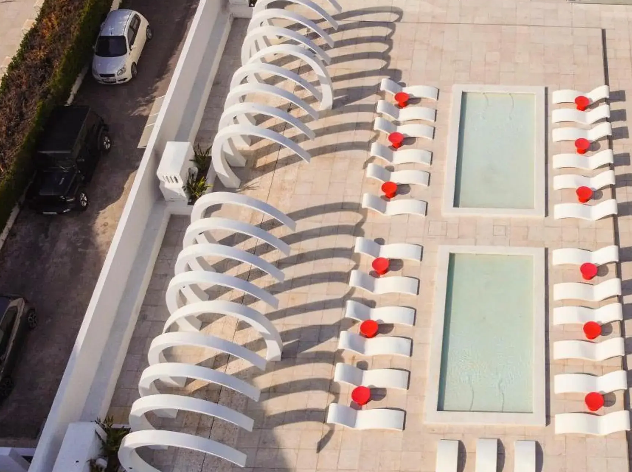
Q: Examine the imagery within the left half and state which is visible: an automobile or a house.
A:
automobile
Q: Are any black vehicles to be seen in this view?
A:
Yes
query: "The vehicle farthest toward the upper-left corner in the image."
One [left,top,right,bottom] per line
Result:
[90,10,151,83]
